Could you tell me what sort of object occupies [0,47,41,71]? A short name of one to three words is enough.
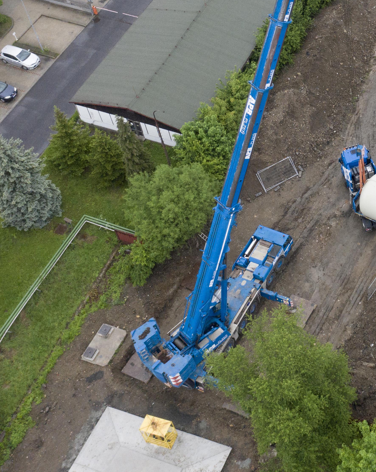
car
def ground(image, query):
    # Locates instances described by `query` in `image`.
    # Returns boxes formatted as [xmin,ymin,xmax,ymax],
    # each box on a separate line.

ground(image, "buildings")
[66,0,277,145]
[69,406,232,472]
